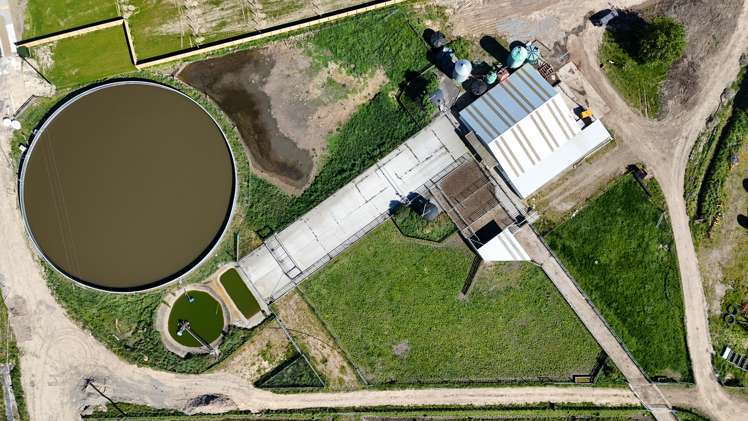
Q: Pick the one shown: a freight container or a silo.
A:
silo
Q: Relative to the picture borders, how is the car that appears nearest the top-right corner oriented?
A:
on a diagonal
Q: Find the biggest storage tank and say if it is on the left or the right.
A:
left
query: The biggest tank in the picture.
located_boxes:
[20,78,239,294]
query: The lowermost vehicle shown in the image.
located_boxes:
[576,105,595,120]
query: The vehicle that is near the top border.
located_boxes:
[591,7,617,29]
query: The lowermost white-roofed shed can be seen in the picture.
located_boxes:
[475,228,531,261]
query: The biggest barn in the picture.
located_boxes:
[460,61,612,200]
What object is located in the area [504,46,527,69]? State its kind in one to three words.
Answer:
silo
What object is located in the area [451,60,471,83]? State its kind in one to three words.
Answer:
silo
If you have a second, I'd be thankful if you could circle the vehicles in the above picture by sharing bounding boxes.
[576,105,595,120]
[591,7,617,29]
